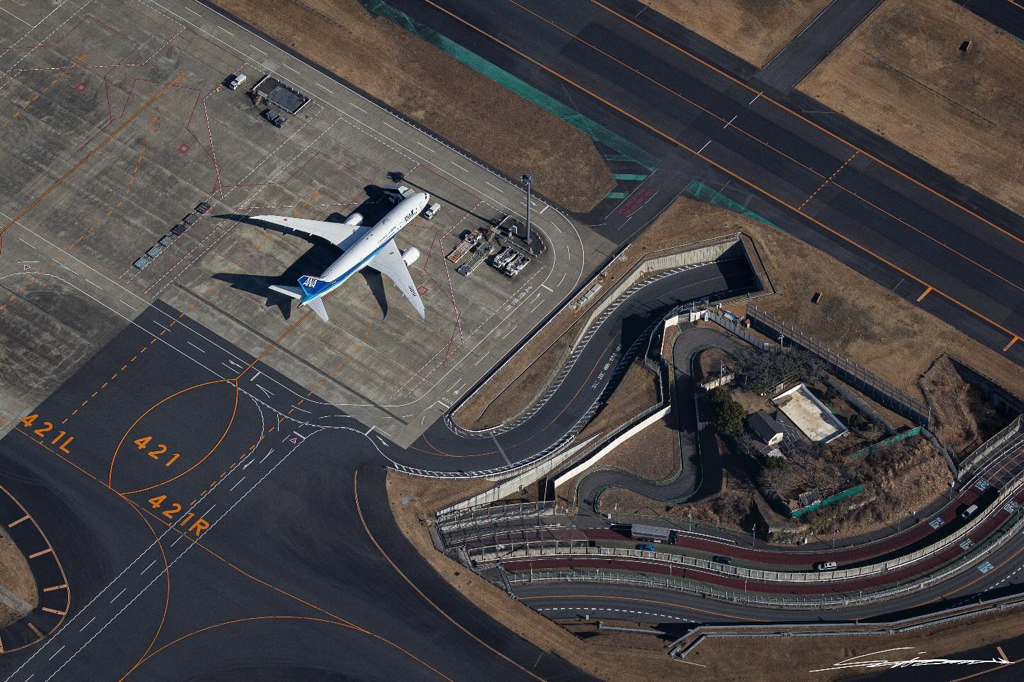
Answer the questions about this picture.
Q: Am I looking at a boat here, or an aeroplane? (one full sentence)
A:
The image shows an aeroplane.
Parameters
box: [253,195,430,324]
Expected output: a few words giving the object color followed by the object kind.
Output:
white airplane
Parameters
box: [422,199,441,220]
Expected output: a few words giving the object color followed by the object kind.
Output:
white vehicle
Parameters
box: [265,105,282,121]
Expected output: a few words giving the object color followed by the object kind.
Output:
gray work vehicle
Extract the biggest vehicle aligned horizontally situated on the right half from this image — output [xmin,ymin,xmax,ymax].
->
[631,524,677,546]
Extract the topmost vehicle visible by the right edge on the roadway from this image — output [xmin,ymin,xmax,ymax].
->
[961,503,979,519]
